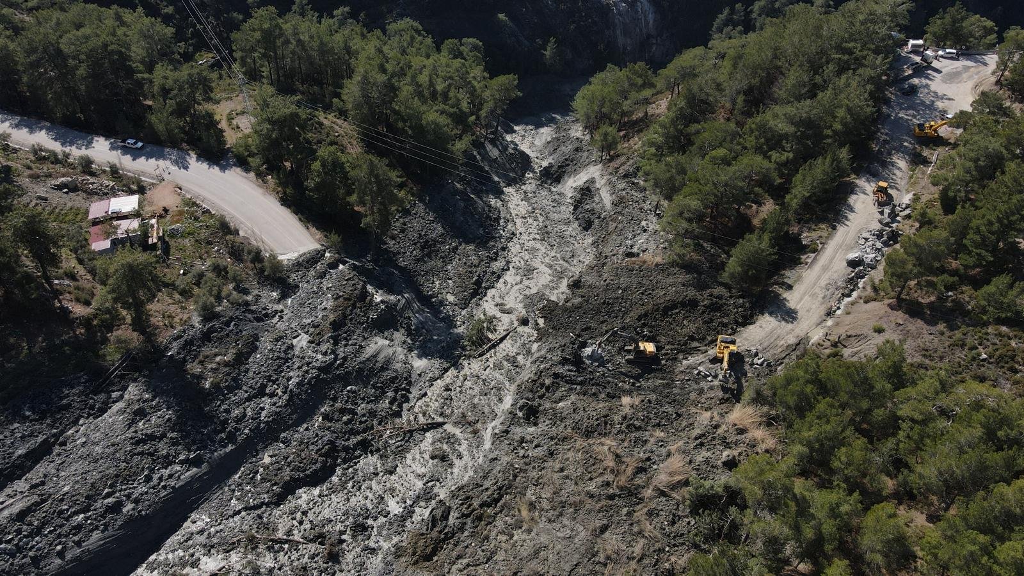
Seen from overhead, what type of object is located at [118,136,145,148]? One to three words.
vehicle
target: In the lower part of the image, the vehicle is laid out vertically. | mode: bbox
[717,330,740,378]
